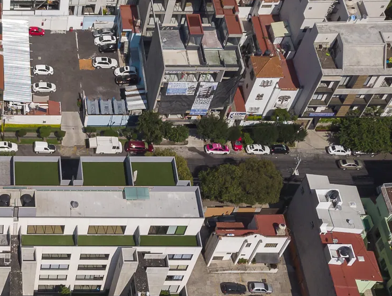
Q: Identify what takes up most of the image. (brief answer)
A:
buildings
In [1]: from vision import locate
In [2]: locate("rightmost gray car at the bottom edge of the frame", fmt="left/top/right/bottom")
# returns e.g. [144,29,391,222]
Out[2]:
[247,281,273,295]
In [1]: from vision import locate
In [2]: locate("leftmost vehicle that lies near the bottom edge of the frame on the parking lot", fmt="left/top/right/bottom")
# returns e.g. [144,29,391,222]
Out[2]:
[218,282,248,296]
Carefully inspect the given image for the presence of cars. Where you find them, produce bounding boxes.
[0,141,18,153]
[127,140,151,154]
[204,143,230,155]
[325,144,352,156]
[218,282,248,296]
[245,143,270,155]
[232,139,245,154]
[32,63,55,75]
[247,281,273,295]
[269,143,291,155]
[96,44,119,54]
[29,26,47,37]
[115,74,139,85]
[93,56,116,69]
[114,65,137,77]
[337,158,364,169]
[92,27,115,37]
[353,145,376,157]
[33,140,56,153]
[93,35,117,46]
[32,82,56,92]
